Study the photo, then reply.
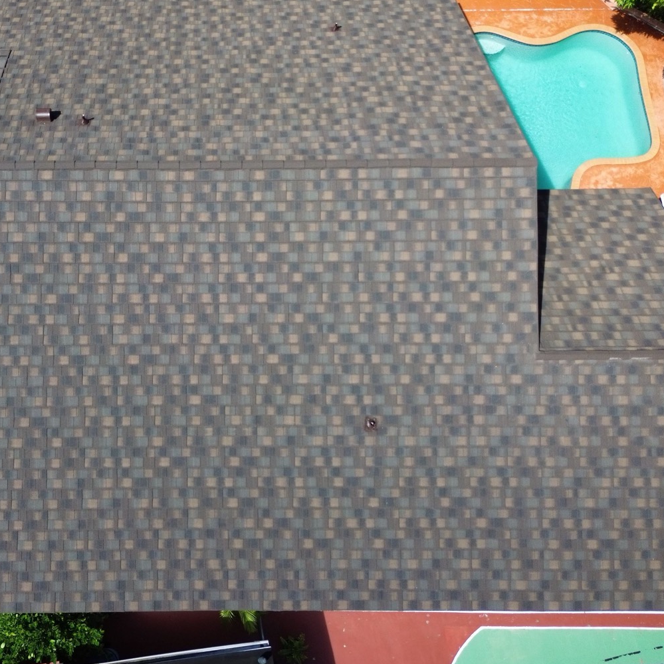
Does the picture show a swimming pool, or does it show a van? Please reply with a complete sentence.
There is a swimming pool in the scene.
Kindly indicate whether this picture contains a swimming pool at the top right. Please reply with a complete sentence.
Yes, you'll find a swimming pool at the top right.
